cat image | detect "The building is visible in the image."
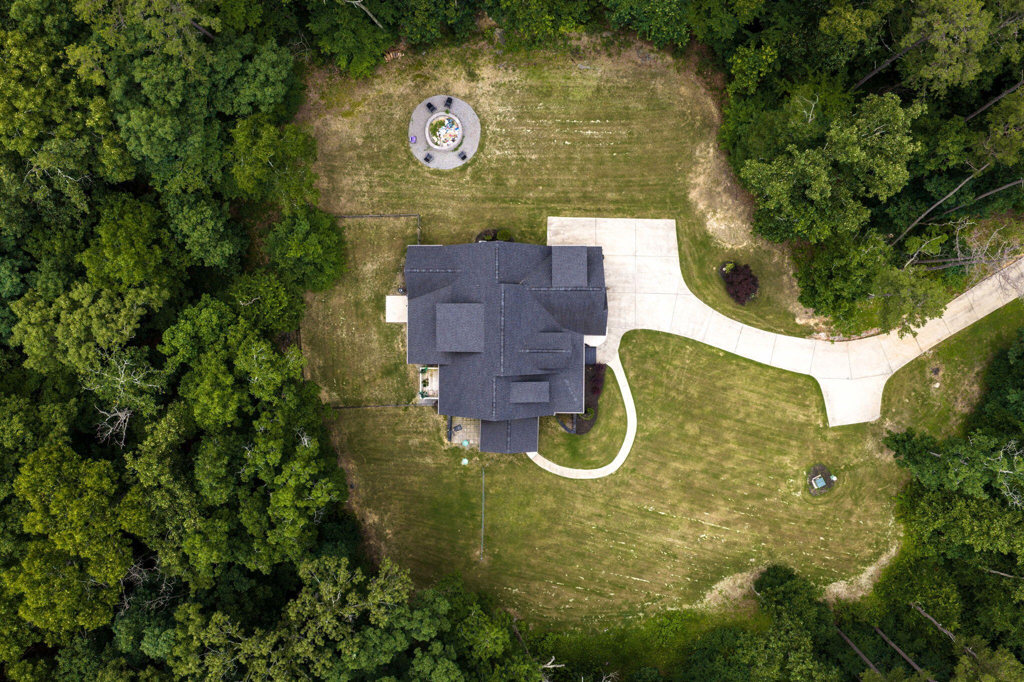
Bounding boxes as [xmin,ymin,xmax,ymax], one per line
[404,241,608,453]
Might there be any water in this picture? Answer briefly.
No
